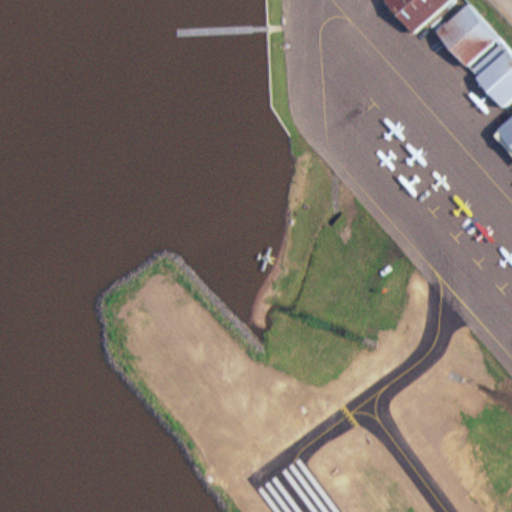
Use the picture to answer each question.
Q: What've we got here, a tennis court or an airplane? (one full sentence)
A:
This aerial view contains an airplane.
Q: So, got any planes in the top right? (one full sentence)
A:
Yes, looking in the top right, one can make out a plane.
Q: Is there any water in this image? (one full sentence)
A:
Yes, the picture does contain water.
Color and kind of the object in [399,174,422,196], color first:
white airplane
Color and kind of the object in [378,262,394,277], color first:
white vehicle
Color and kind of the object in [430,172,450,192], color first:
white airplane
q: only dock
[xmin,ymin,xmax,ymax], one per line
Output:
[176,24,269,37]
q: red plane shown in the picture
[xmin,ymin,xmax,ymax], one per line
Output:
[474,223,494,244]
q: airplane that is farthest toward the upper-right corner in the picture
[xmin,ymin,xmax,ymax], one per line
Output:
[469,92,490,114]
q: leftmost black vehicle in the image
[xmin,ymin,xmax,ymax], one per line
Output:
[328,212,344,226]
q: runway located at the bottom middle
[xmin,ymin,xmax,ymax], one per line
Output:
[258,454,348,512]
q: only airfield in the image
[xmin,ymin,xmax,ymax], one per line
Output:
[248,0,512,512]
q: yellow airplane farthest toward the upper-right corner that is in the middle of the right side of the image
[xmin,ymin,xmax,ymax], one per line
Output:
[451,196,473,218]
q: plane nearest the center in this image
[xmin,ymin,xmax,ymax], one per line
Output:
[256,248,276,271]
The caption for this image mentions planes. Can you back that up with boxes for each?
[377,150,398,171]
[451,196,473,218]
[474,223,494,244]
[382,118,404,142]
[256,248,276,271]
[404,144,426,168]
[399,174,422,196]
[430,172,450,192]
[498,247,512,270]
[469,92,490,114]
